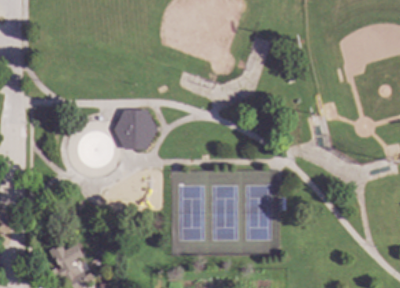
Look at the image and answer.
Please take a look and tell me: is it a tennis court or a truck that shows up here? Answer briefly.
tennis court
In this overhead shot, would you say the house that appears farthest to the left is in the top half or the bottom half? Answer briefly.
bottom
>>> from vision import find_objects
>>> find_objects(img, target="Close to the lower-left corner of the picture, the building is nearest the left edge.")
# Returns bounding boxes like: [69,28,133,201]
[45,243,89,281]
